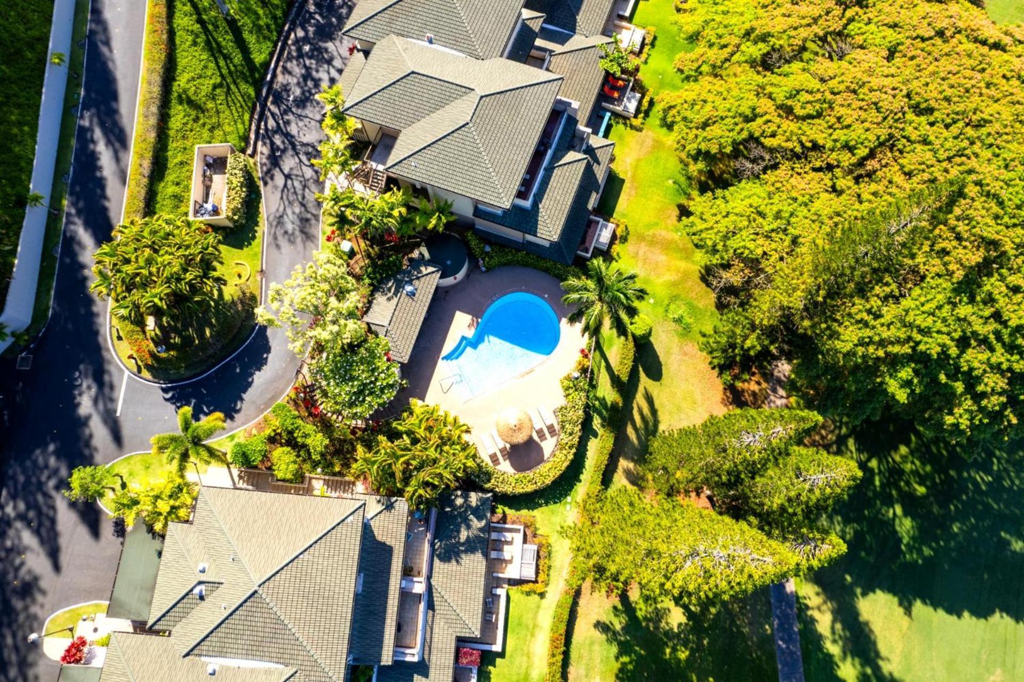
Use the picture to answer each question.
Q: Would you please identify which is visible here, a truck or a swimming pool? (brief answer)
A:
swimming pool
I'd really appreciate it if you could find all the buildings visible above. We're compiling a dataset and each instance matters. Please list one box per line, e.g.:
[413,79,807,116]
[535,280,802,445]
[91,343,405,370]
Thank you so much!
[99,484,494,682]
[325,31,616,269]
[362,256,443,365]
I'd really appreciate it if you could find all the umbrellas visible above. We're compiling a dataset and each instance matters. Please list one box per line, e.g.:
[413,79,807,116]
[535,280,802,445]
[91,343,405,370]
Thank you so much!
[494,405,534,445]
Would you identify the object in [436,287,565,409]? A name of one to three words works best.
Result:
swimming pool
